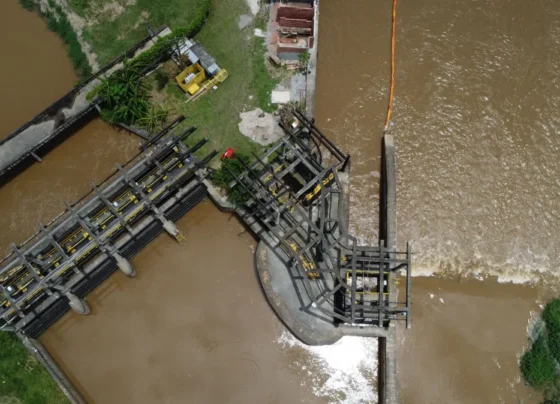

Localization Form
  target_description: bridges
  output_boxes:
[0,115,220,344]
